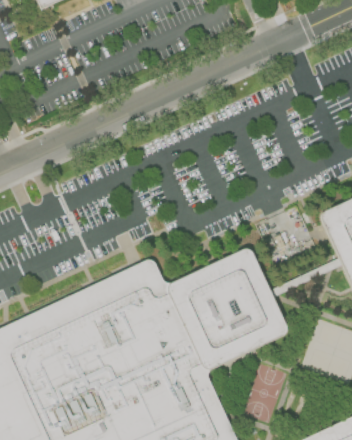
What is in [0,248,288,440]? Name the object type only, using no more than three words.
building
